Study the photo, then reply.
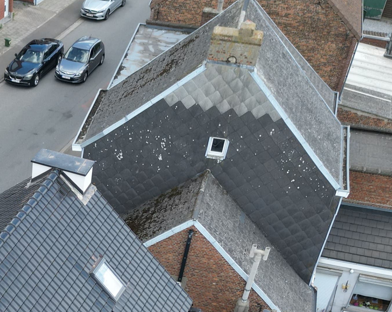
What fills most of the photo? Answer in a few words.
buildings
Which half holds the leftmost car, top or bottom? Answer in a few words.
top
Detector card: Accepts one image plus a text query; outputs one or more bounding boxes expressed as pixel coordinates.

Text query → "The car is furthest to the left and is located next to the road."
[3,40,64,87]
